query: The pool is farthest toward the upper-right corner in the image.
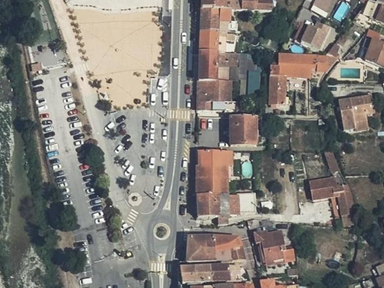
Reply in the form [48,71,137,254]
[332,0,351,22]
